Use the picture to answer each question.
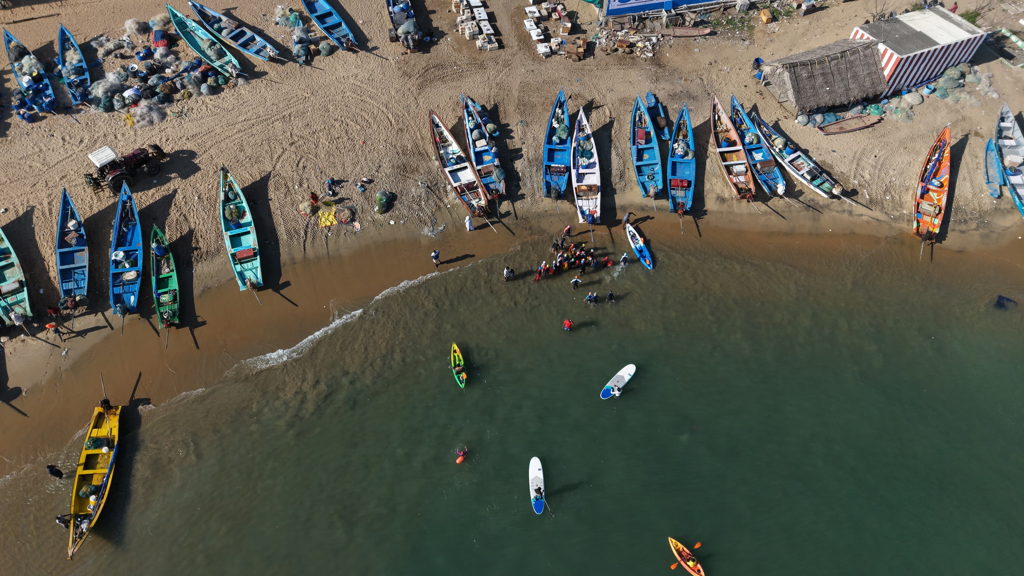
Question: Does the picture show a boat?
Yes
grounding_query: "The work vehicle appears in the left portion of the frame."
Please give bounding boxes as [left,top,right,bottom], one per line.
[84,144,165,197]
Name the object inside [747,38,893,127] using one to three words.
shed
